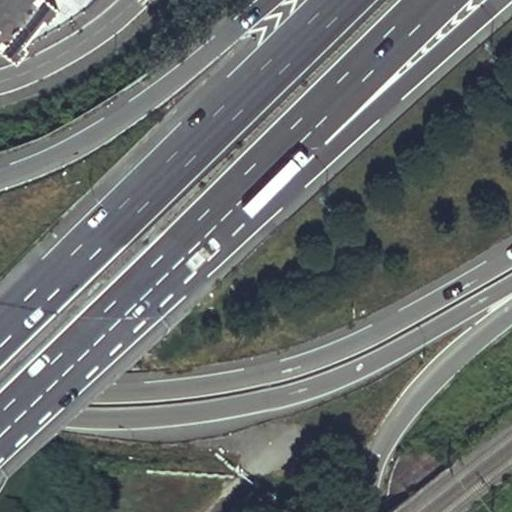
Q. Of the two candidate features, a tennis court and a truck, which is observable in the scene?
truck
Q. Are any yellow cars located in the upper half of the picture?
No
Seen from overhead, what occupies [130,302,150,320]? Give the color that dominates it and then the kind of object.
white car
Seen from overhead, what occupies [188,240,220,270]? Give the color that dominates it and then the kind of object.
white truck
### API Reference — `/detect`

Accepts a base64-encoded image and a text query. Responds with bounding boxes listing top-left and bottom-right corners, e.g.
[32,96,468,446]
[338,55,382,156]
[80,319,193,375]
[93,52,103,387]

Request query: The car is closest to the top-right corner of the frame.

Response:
[374,36,395,56]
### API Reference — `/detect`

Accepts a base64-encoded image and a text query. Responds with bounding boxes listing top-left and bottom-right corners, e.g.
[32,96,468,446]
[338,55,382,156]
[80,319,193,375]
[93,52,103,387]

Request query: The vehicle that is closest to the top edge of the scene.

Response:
[240,6,261,28]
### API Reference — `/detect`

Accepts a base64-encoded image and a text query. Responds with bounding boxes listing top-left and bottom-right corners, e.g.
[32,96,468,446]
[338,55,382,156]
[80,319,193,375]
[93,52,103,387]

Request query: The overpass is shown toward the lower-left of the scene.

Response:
[0,302,169,484]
